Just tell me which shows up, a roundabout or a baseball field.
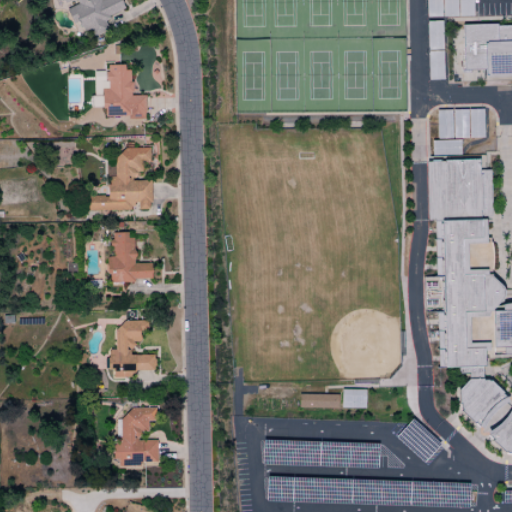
baseball field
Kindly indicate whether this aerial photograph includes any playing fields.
Yes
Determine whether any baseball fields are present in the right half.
Yes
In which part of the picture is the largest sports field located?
center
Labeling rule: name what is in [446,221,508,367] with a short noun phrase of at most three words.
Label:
building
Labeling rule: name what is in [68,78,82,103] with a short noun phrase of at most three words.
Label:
swimming pool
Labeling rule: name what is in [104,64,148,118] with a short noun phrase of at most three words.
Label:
house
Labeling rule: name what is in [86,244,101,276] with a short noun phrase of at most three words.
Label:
swimming pool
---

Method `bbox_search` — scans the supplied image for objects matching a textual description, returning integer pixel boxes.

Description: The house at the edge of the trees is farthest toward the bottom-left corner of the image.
[114,408,159,466]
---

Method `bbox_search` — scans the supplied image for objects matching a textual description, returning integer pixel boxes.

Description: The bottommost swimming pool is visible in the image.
[88,330,104,355]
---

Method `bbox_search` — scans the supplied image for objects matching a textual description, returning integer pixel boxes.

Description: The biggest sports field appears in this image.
[218,128,402,382]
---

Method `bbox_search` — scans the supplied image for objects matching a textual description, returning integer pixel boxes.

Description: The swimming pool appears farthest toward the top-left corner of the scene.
[55,10,74,28]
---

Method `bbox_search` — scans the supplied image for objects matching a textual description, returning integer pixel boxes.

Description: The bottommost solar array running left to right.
[268,477,472,508]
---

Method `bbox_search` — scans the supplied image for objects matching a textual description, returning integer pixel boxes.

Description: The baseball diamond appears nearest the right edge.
[330,308,402,380]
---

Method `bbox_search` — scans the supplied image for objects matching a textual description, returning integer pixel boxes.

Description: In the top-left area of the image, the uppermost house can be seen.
[68,0,129,36]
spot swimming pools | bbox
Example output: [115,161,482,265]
[86,244,101,276]
[88,330,104,355]
[68,78,82,103]
[55,10,74,28]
